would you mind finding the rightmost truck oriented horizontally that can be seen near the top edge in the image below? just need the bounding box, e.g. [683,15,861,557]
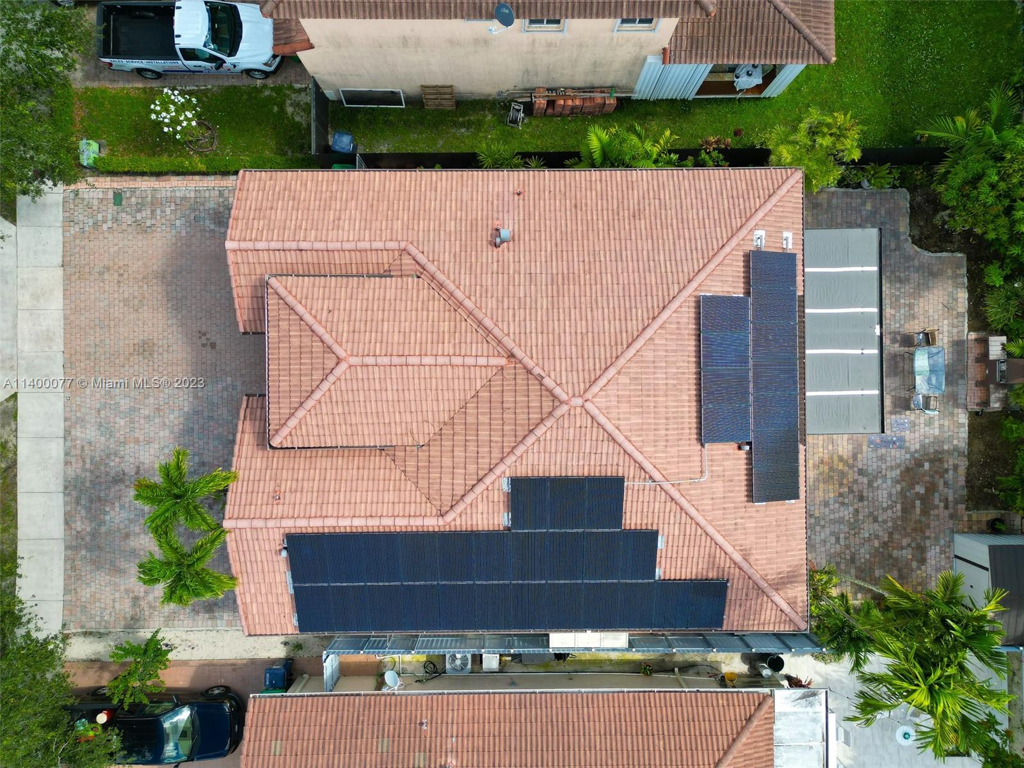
[97,0,287,80]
